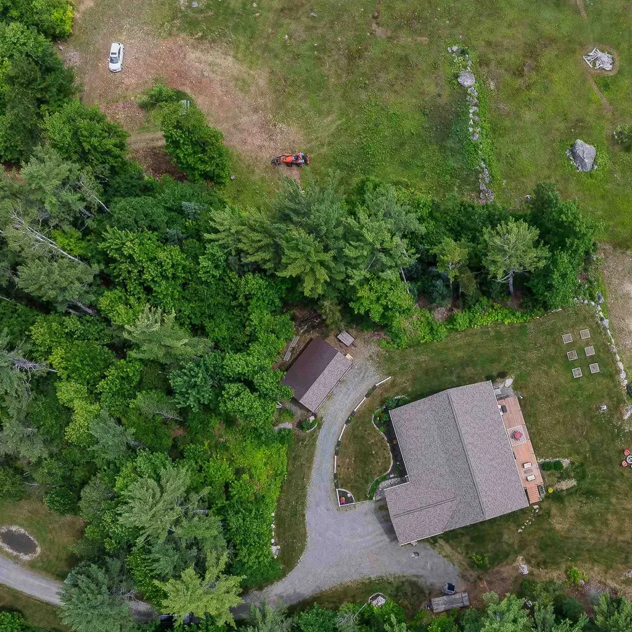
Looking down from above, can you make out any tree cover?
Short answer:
Yes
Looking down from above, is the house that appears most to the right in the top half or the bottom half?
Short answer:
bottom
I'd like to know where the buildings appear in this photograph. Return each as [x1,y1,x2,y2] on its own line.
[382,381,529,547]
[281,337,355,414]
